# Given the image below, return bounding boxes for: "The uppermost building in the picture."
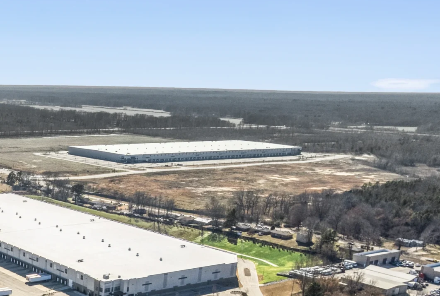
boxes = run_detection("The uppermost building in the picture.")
[63,140,305,164]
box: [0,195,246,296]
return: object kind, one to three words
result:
building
